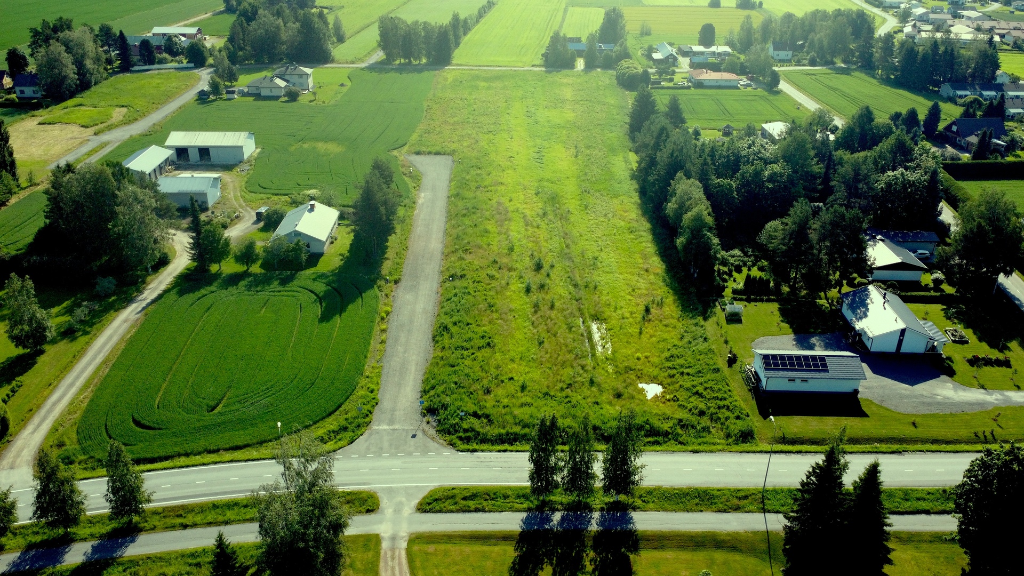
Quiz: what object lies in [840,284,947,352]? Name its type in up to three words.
house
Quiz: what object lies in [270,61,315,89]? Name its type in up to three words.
house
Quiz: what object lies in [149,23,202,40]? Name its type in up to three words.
barn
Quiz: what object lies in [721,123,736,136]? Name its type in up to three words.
gazebo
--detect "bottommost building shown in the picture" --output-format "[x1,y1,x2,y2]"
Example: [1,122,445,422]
[752,348,867,393]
